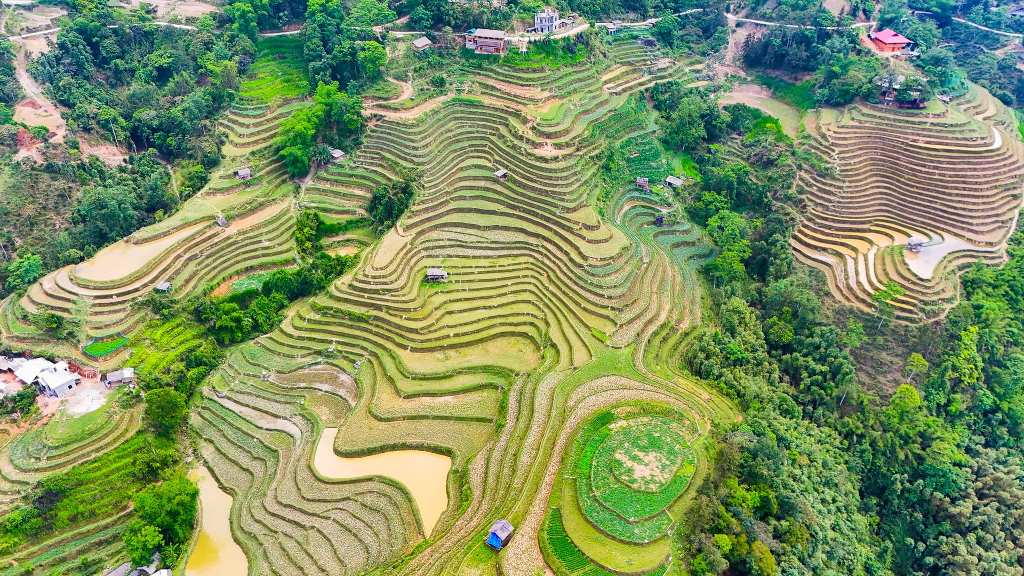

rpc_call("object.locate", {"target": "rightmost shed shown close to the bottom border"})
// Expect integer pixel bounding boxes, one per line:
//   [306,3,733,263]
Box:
[483,523,512,552]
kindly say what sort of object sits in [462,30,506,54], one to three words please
house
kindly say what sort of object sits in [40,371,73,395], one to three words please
house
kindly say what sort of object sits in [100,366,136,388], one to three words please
shed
